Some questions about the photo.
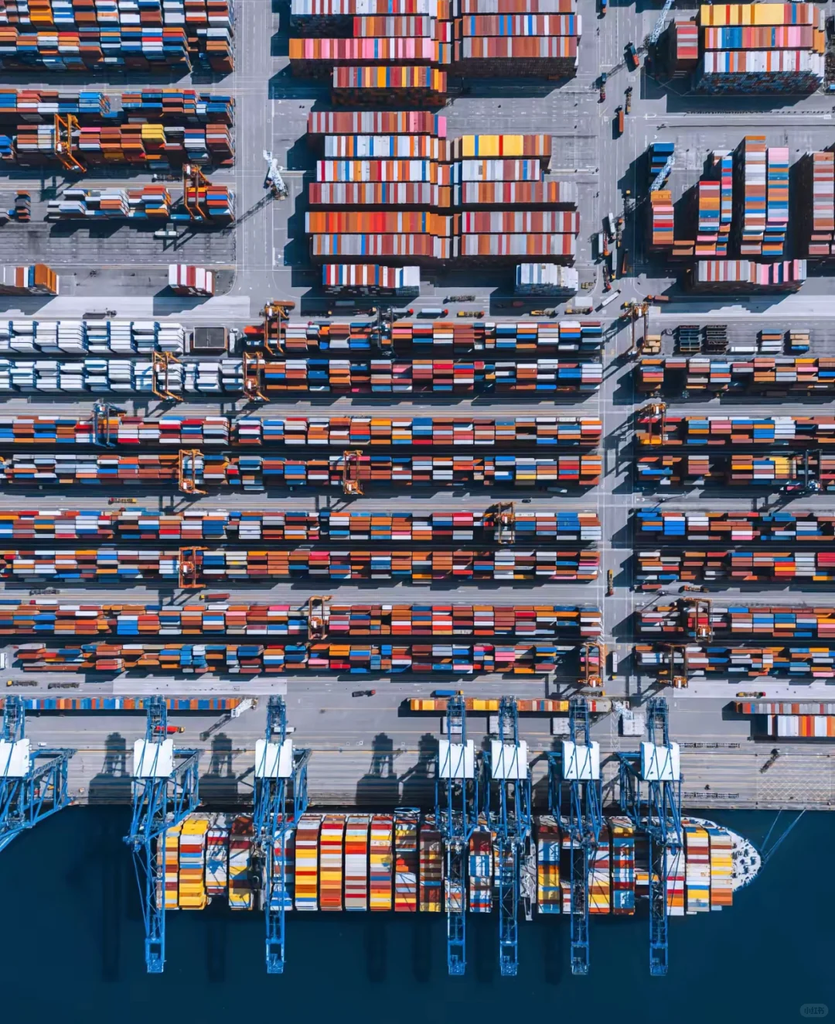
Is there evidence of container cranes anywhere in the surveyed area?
Yes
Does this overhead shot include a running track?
No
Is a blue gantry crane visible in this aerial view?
Yes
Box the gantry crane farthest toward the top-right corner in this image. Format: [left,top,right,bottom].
[619,305,652,358]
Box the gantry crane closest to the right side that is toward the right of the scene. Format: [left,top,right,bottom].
[785,450,824,494]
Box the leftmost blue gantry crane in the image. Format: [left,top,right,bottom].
[0,693,79,867]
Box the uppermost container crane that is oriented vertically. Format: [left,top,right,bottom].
[54,115,89,177]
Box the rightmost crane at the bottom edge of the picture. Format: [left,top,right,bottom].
[610,693,692,975]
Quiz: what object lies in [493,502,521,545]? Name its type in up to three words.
container crane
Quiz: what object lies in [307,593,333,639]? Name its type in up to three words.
container crane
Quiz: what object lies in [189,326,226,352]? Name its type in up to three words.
shed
